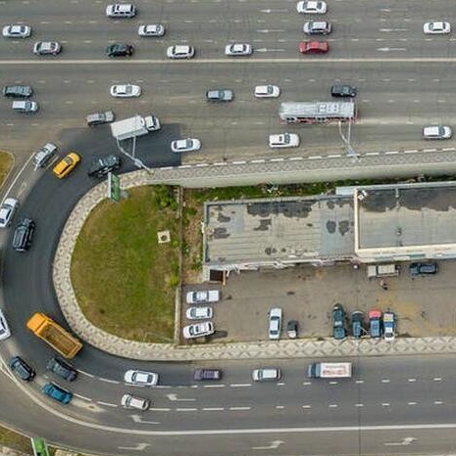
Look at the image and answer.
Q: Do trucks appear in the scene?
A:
Yes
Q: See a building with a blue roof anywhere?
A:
No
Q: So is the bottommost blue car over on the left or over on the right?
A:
left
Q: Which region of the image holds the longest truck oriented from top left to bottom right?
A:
bottom left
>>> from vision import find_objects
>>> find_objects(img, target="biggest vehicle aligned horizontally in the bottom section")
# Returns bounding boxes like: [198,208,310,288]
[309,363,353,379]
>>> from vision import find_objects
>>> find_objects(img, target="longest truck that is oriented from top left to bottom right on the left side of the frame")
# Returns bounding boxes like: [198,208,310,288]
[28,314,80,357]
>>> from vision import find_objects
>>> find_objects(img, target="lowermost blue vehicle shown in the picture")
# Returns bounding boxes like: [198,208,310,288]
[42,382,75,405]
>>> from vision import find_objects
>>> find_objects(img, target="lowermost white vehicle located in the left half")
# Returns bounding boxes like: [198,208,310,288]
[121,394,153,410]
